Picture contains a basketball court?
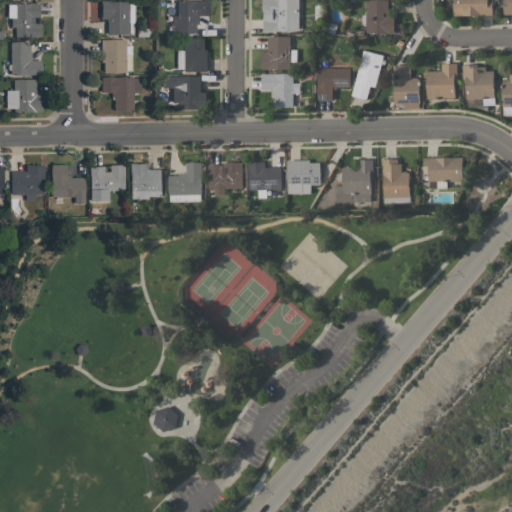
Yes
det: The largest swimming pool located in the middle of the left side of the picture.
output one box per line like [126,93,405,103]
[10,197,28,220]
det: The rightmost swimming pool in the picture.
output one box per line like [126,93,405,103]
[428,190,456,206]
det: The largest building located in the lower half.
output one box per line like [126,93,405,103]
[153,406,178,433]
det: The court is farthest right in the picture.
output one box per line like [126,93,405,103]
[282,232,348,298]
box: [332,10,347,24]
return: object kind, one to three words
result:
swimming pool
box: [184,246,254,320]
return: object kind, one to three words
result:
tennis court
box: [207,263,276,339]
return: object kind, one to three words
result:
tennis court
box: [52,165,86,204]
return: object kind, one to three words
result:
house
